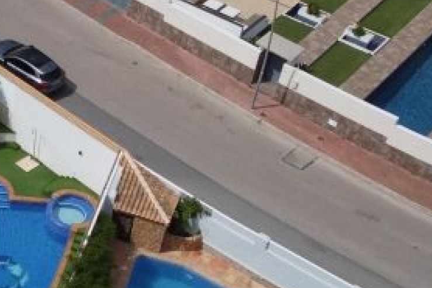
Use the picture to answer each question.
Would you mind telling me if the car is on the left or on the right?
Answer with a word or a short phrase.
left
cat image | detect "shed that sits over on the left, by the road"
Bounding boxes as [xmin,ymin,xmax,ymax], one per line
[112,152,179,266]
